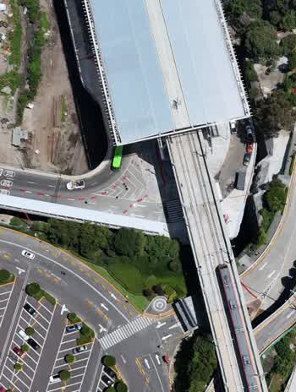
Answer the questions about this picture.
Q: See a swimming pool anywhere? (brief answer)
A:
No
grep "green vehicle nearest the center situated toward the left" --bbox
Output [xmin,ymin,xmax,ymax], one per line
[112,143,125,171]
